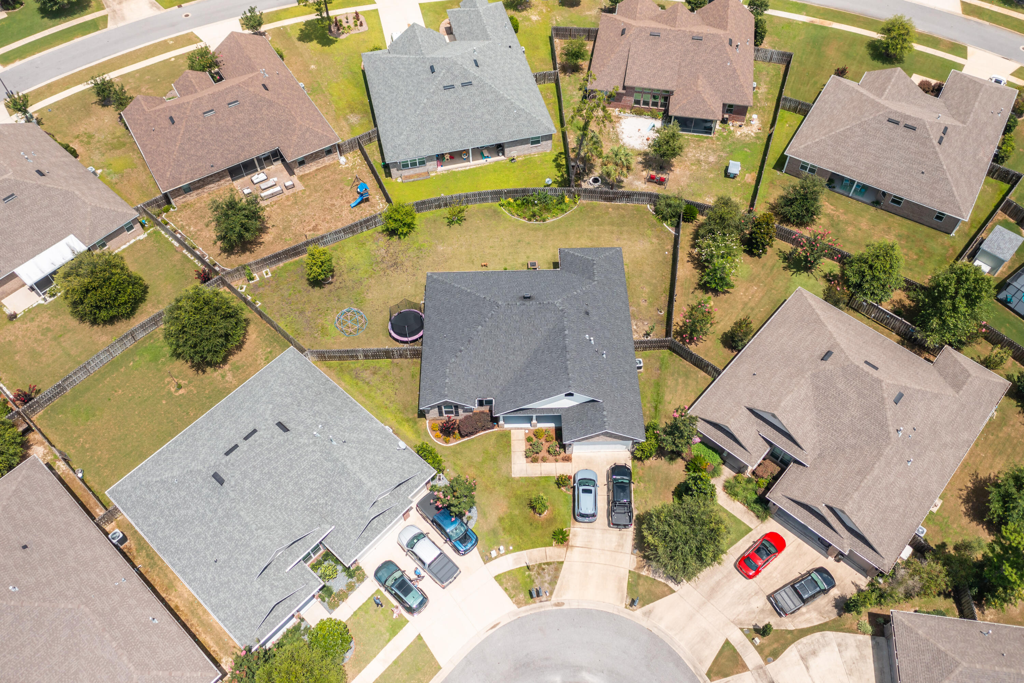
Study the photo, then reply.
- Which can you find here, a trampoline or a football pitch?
trampoline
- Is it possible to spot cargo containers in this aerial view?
No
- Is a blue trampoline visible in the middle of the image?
No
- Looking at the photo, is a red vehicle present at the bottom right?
Yes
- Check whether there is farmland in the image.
No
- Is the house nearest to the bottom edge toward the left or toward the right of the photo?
right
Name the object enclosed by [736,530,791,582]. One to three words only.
car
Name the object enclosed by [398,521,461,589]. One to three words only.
truck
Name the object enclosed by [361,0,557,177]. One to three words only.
house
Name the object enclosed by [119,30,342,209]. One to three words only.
house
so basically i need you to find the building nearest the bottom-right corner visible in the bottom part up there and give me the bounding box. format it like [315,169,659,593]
[885,608,1024,683]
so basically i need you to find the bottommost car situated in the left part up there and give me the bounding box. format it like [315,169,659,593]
[375,560,430,617]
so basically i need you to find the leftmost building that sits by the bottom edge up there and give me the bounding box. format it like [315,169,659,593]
[0,453,224,683]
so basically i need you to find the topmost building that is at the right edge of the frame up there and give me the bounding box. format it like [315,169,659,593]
[782,69,1020,238]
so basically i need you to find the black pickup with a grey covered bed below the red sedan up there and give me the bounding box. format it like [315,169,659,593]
[768,565,843,623]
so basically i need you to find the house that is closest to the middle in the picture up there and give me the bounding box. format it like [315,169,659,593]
[419,247,646,453]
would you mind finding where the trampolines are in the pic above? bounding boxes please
[385,295,425,343]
